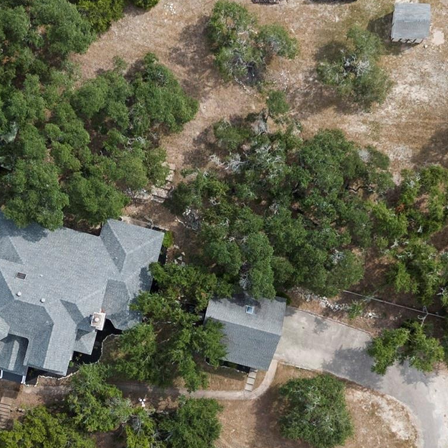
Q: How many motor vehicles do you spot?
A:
0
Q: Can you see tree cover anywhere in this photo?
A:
Yes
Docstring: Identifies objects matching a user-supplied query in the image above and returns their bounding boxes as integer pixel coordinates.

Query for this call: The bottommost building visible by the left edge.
[0,211,165,386]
